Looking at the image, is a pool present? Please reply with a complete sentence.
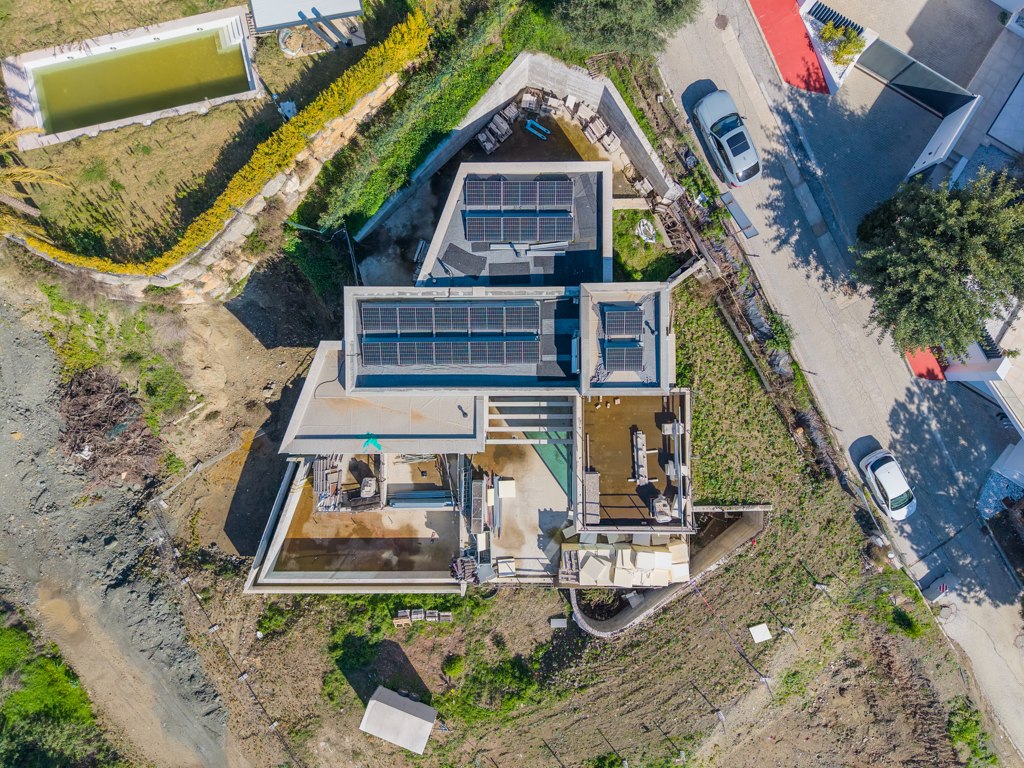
Yes, the frame does contain a pool.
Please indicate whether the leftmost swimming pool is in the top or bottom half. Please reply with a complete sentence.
The top half of the photo is where the leftmost swimming pool is.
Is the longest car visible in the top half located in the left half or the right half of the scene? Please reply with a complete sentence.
It is on the right.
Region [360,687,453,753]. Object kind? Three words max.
trailer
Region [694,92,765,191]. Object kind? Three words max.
car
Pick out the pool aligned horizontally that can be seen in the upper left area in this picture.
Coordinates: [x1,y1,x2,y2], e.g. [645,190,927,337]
[2,5,269,148]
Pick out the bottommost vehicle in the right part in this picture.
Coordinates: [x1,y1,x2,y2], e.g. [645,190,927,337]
[858,449,916,523]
